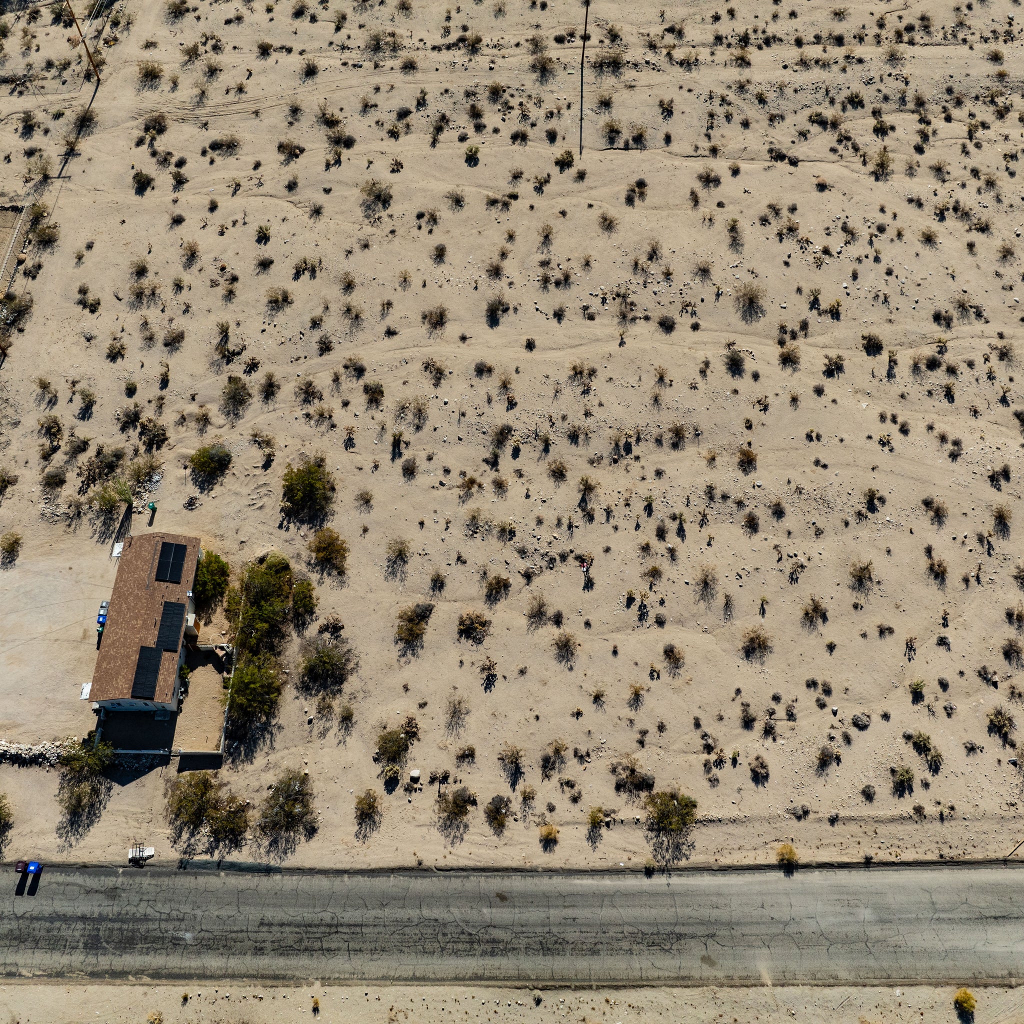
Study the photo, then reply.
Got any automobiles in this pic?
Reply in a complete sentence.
No, the photo shows no automobile.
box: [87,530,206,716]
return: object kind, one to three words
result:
house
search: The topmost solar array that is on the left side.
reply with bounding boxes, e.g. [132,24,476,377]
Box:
[154,543,189,584]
